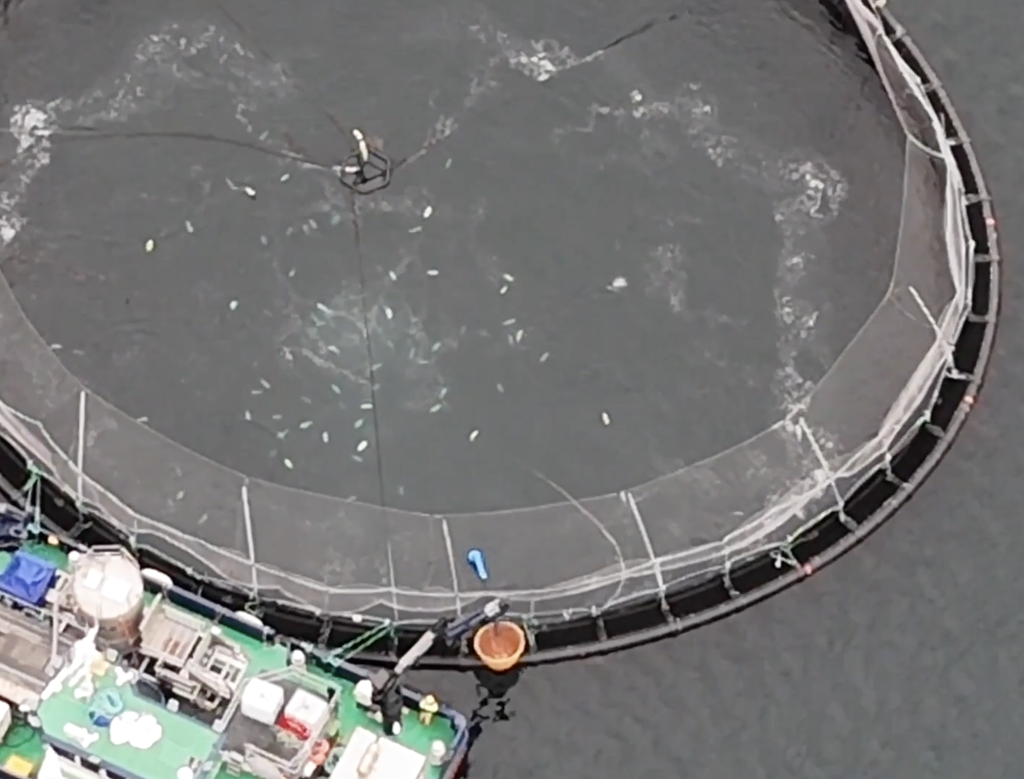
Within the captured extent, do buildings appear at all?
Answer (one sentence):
No, I find no building anywhere in the image.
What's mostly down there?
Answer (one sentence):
The bulk of the photo consists of water.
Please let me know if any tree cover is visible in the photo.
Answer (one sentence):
No, there is no tree cover in the image.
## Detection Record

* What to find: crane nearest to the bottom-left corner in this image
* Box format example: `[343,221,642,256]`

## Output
[42,622,105,699]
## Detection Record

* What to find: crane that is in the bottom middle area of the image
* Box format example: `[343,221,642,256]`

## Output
[355,595,511,739]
